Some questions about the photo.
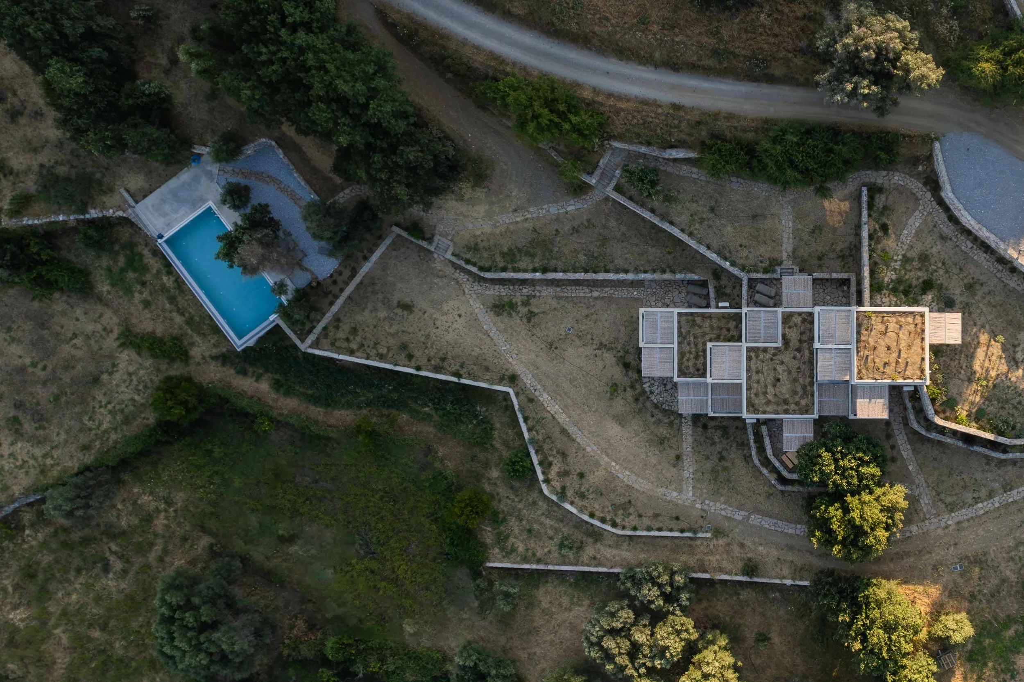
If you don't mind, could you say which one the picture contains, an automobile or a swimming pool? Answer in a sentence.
Visible in the photo is a swimming pool.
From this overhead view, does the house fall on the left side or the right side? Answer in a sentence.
The house appears in the right half of the scene.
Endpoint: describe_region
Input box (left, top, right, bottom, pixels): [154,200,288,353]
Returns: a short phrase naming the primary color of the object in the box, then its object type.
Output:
blue swimming pool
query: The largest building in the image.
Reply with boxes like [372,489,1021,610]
[636,306,931,419]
